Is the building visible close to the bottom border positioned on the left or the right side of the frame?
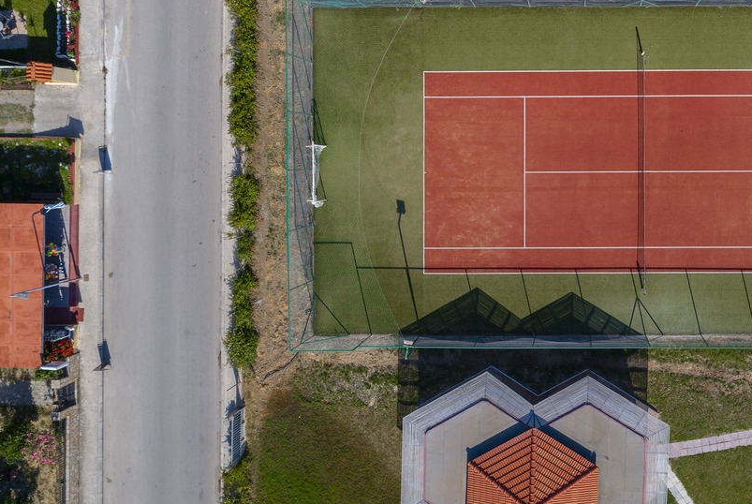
right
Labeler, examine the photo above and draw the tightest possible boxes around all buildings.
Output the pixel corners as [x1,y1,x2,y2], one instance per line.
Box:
[0,203,70,368]
[402,367,670,504]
